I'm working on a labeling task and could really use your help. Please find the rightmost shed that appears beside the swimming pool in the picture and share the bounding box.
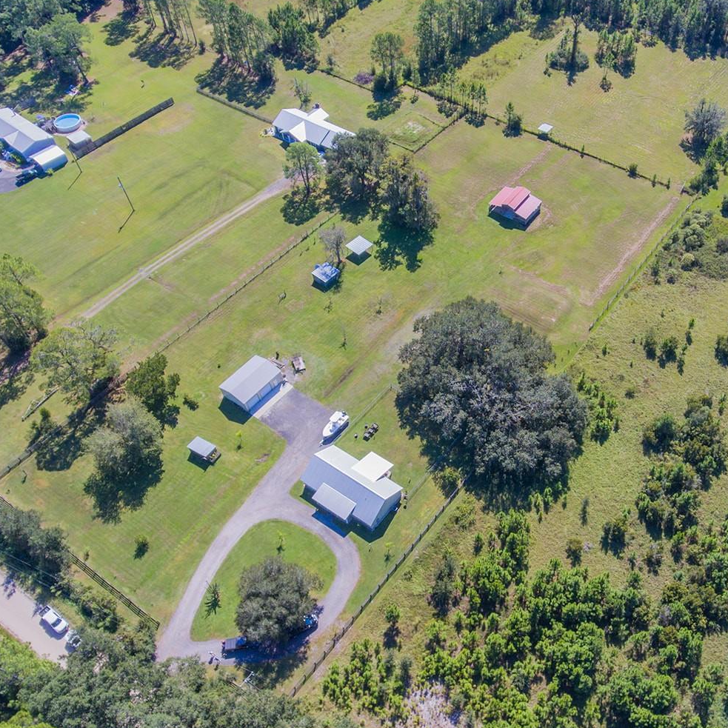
[59,128,95,156]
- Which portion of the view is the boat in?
center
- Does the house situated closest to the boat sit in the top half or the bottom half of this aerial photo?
bottom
